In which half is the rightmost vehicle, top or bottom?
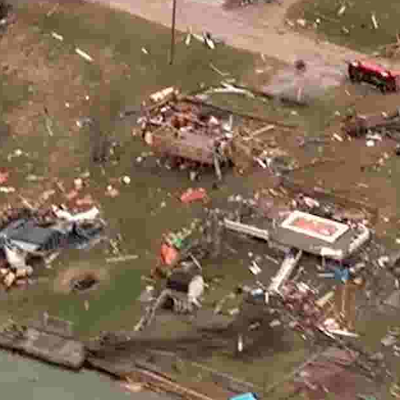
top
